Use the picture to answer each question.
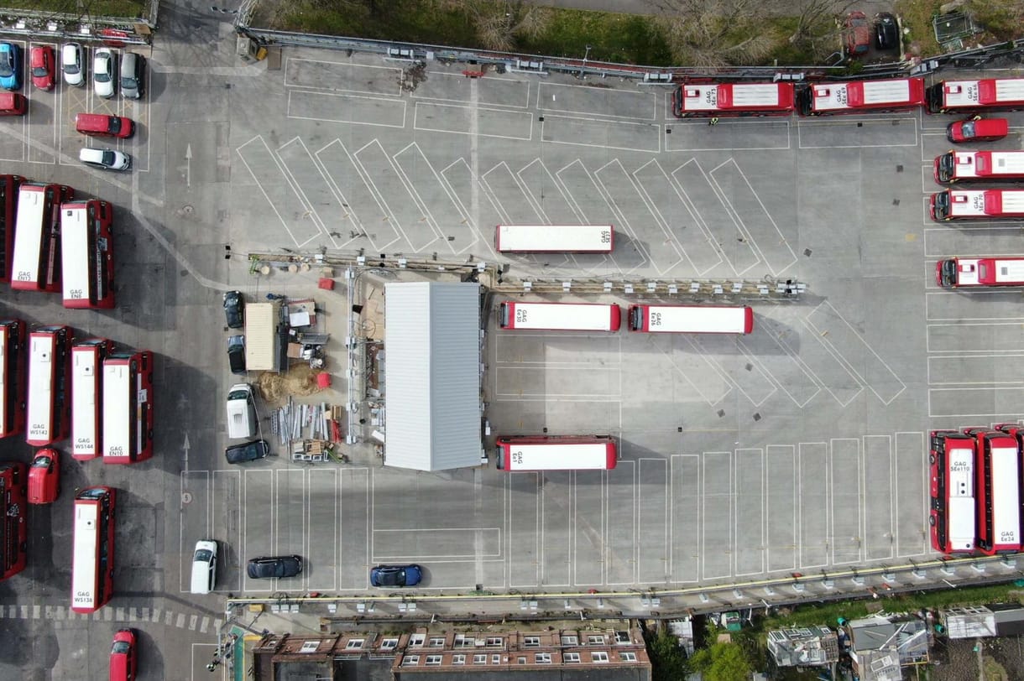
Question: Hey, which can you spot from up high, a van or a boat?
van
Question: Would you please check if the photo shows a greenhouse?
Yes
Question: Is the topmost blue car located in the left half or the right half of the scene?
left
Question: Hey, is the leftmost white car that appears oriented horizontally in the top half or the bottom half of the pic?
top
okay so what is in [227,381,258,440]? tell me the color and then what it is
white van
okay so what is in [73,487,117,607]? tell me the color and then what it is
white bus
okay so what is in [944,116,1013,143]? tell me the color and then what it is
red vehicle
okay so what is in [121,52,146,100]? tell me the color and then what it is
gray car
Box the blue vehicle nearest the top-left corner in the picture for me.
[0,43,22,90]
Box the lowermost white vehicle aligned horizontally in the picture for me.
[497,433,616,469]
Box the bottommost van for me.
[108,627,138,681]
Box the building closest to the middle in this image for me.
[383,282,489,471]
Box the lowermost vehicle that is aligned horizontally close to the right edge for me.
[936,254,1024,290]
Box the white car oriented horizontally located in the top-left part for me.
[81,147,133,171]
